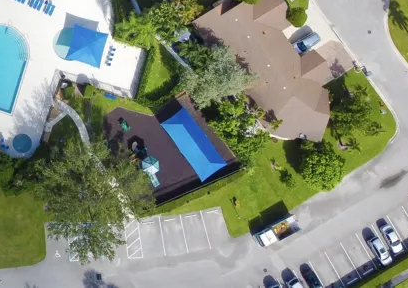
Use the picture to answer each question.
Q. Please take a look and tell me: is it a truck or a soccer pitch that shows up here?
truck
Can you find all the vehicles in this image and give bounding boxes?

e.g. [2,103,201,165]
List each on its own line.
[300,260,325,288]
[281,267,305,288]
[253,218,305,252]
[379,221,406,254]
[368,232,395,266]
[293,31,323,55]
